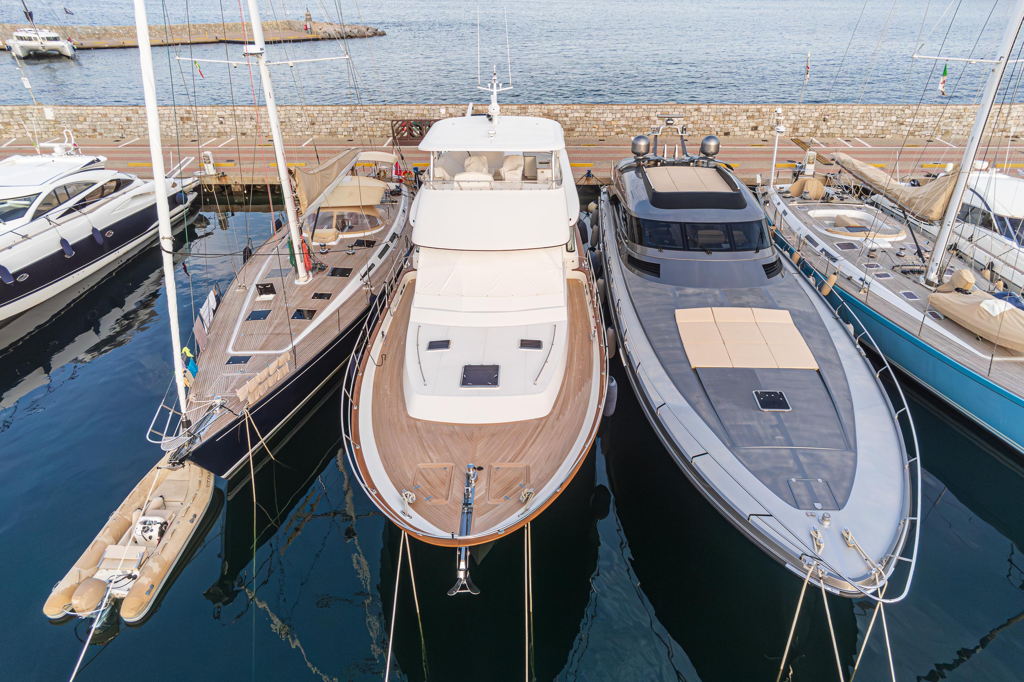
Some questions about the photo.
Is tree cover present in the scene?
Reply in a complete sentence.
No, no tree cover is visible.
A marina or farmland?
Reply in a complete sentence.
It's a marina.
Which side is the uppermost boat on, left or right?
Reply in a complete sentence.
It is on the left.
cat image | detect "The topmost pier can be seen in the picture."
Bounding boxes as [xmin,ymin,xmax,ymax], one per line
[0,29,321,54]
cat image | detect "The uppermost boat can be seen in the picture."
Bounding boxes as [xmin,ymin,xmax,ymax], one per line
[10,0,80,56]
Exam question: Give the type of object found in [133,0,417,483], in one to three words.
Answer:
boat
